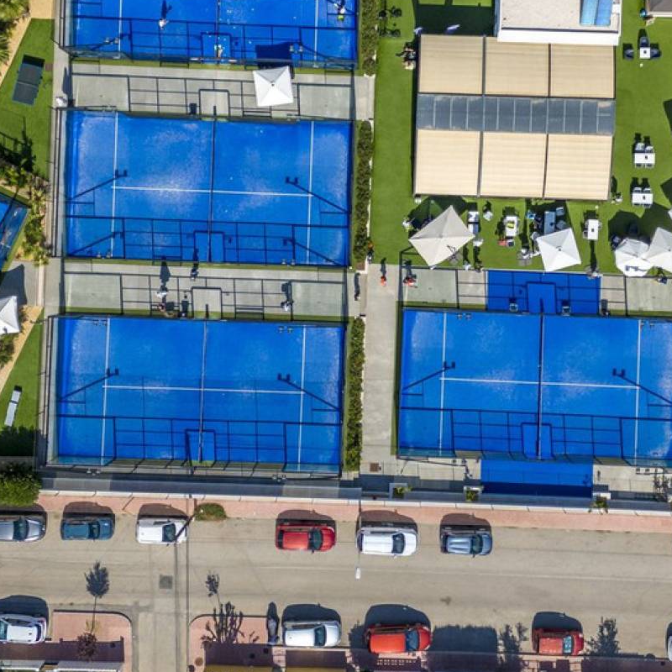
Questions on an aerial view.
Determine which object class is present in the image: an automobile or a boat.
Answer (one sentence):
This aerial view contains an automobile.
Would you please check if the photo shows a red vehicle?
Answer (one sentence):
Yes, there's a red vehicle here.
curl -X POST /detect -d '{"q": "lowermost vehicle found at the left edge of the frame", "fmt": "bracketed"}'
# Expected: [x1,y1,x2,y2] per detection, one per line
[0,613,47,647]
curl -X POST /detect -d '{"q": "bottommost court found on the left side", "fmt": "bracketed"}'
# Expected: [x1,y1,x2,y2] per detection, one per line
[40,303,355,481]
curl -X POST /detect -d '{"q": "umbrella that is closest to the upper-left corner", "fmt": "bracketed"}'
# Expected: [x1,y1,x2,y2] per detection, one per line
[252,65,294,107]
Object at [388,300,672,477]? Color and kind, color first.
blue sports court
